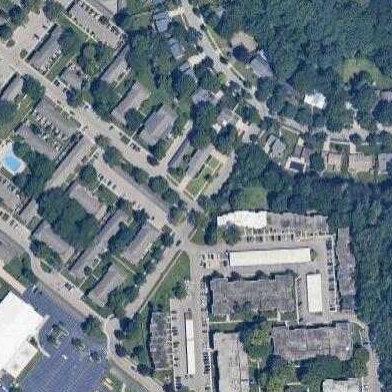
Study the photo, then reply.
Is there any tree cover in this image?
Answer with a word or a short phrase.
Yes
